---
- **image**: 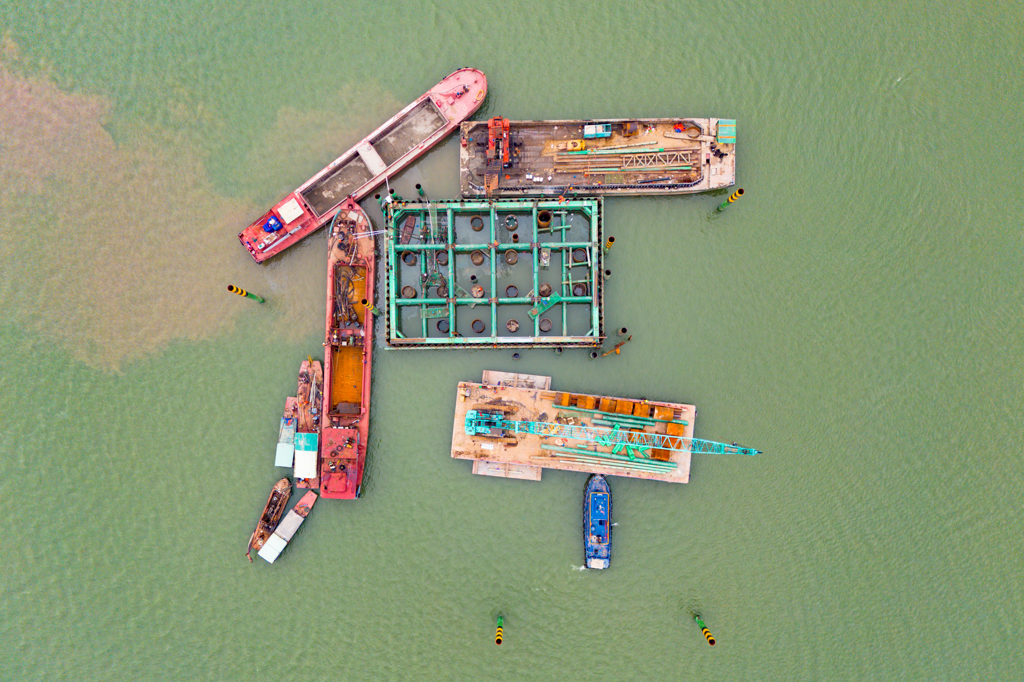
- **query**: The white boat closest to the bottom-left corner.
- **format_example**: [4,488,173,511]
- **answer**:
[258,491,318,564]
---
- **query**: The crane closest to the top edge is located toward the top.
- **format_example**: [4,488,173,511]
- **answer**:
[476,116,523,205]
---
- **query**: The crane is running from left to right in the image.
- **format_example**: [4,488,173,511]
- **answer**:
[465,403,763,455]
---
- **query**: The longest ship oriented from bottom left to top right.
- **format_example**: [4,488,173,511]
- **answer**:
[238,65,488,266]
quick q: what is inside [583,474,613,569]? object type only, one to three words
boat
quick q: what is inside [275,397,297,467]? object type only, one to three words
boat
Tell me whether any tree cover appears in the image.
No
